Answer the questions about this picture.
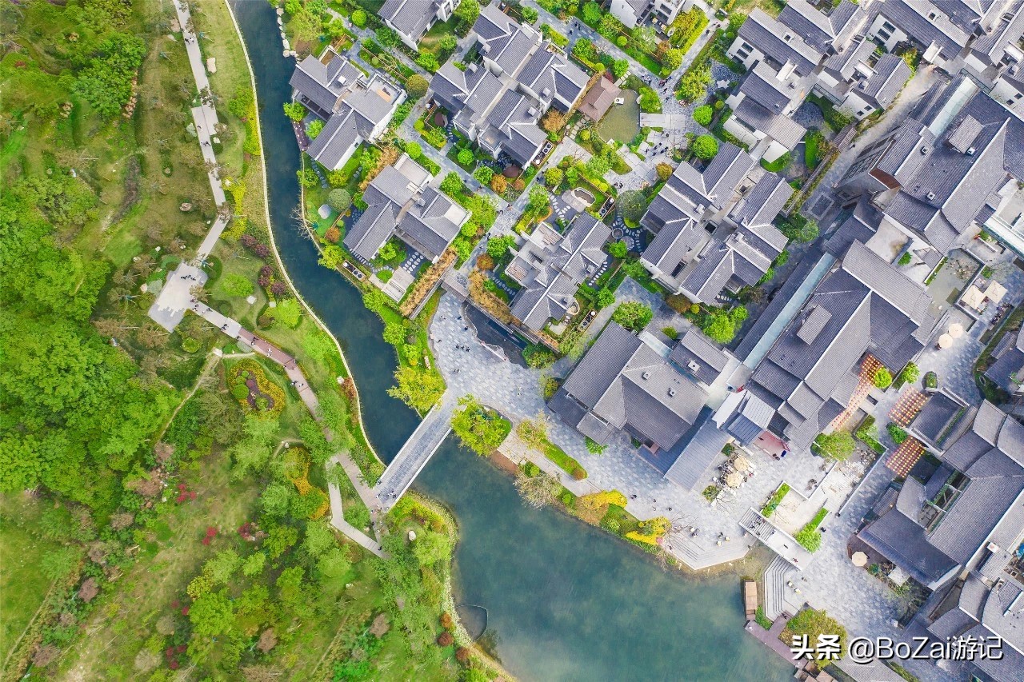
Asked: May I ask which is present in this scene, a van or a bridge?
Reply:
bridge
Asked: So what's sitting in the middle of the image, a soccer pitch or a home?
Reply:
home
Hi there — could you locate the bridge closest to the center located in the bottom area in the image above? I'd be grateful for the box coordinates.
[372,397,455,512]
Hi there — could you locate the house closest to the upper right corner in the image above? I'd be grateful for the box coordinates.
[867,0,1024,98]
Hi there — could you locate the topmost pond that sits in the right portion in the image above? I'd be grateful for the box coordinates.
[596,90,640,147]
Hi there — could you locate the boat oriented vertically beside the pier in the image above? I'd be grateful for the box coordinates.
[743,575,757,620]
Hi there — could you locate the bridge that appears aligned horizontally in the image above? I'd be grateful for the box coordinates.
[639,113,685,130]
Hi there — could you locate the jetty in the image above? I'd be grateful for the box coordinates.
[745,611,805,668]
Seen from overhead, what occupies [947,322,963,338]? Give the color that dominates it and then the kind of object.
white umbrella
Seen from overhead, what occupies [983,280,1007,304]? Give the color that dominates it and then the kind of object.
white umbrella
